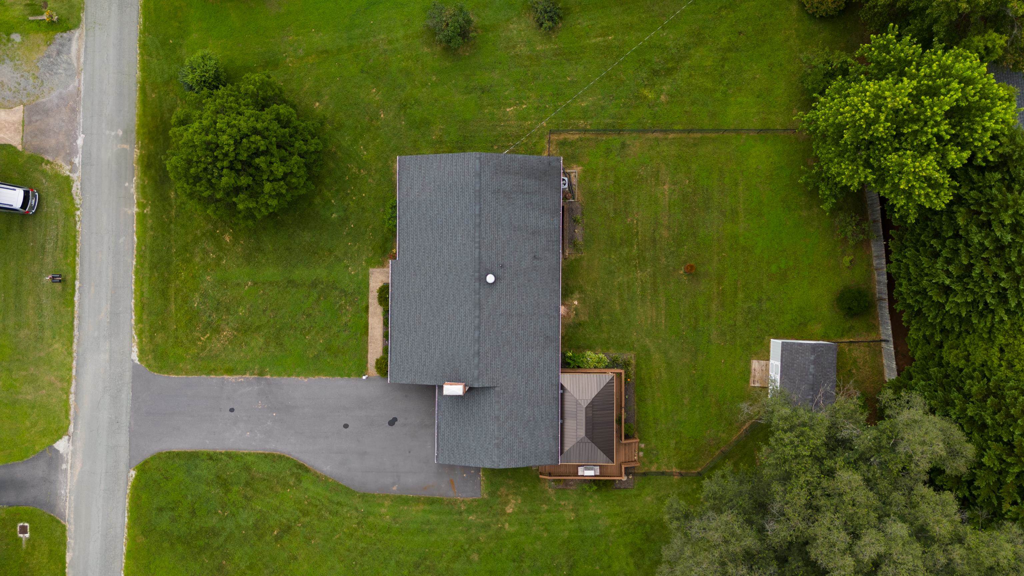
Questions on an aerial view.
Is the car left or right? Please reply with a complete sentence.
You can find the car on the left side of the picture.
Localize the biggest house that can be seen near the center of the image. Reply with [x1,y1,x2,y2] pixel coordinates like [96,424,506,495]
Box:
[389,152,563,468]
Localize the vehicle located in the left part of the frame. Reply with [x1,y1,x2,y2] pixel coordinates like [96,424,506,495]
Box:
[0,182,42,215]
